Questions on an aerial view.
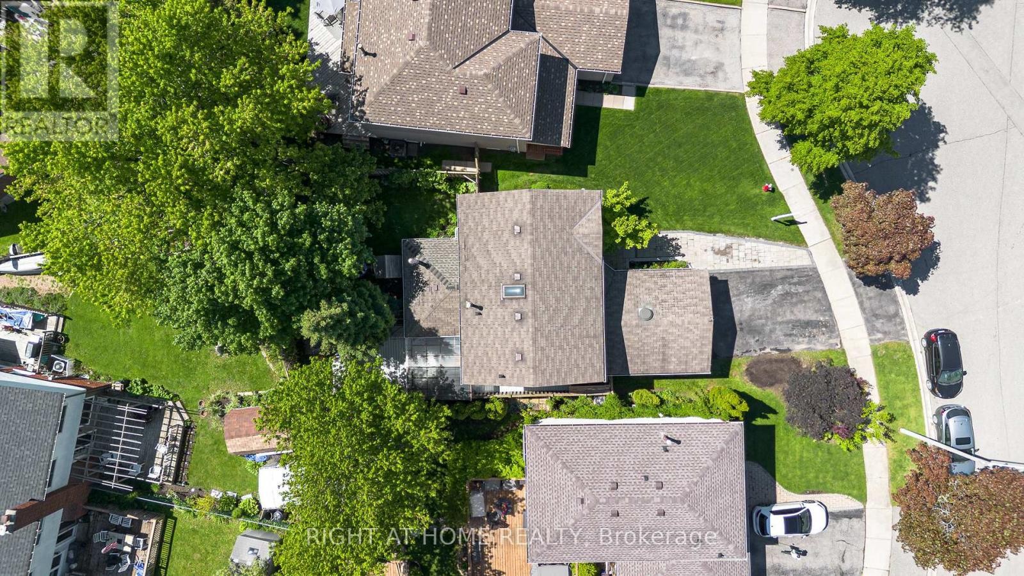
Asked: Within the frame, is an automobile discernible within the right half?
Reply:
Yes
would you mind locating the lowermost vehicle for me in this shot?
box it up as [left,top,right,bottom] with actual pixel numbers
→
[757,501,831,539]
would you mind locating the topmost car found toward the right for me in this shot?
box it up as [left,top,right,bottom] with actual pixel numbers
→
[920,329,966,399]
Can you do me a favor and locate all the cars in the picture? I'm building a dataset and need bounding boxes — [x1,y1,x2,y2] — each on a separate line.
[931,405,976,477]
[920,329,966,399]
[757,501,831,539]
